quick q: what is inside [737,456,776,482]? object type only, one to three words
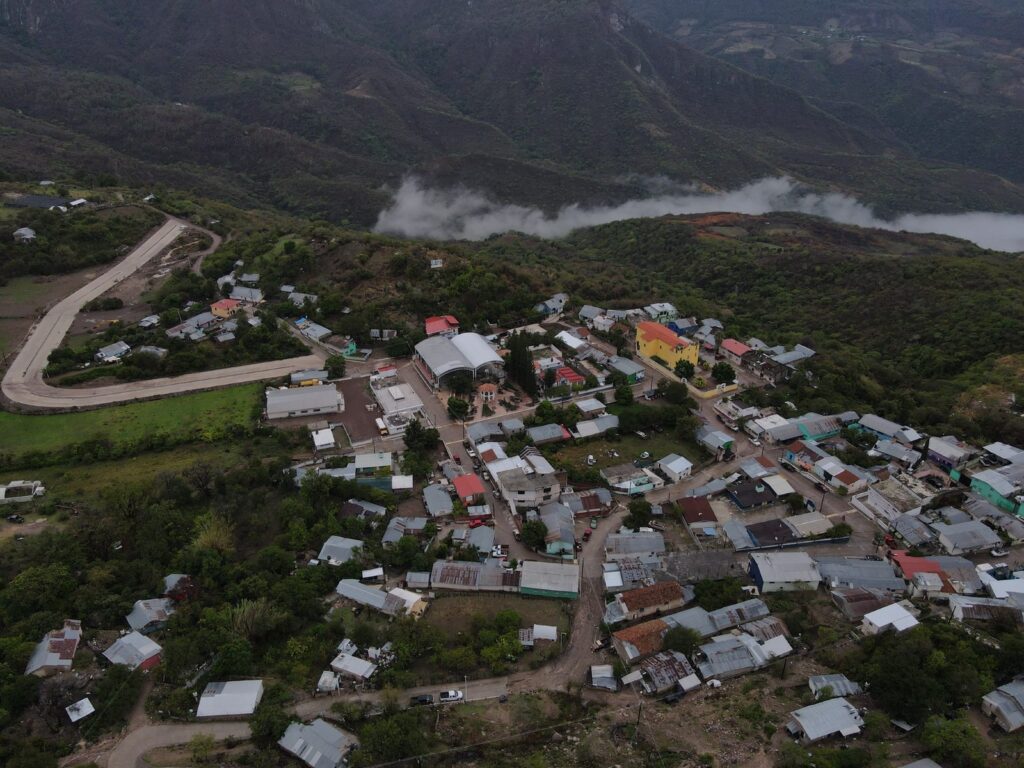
shed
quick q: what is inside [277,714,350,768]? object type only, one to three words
house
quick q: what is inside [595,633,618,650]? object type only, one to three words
vehicle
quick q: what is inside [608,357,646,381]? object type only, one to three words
building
